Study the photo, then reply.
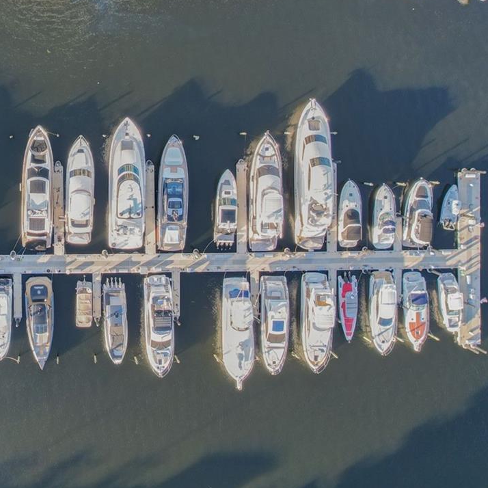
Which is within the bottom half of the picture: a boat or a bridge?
boat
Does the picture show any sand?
No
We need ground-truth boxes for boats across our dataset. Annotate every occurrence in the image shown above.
[106,116,145,255]
[246,130,286,254]
[292,271,340,375]
[365,270,398,358]
[398,271,429,351]
[16,124,54,255]
[400,177,436,253]
[333,179,369,256]
[96,272,136,365]
[217,271,273,390]
[333,271,365,351]
[0,277,18,360]
[25,271,56,369]
[288,98,333,256]
[59,135,100,254]
[368,183,399,248]
[438,179,470,236]
[140,272,176,379]
[434,271,466,336]
[59,271,95,359]
[253,271,294,376]
[208,138,243,252]
[152,133,192,254]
